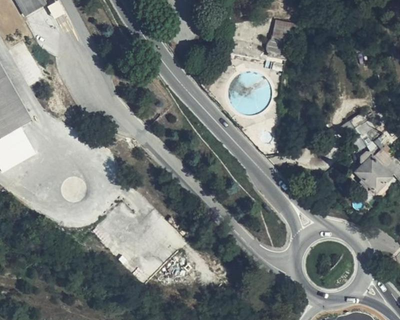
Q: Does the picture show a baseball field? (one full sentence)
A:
No, there isn't any baseball field down there.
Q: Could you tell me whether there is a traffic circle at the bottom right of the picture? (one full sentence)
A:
Yes, a traffic circle can be seen at the bottom right of the picture.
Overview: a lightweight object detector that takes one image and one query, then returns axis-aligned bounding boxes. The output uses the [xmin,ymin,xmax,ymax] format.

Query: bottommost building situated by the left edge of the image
[0,126,36,173]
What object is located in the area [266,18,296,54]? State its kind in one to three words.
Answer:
building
